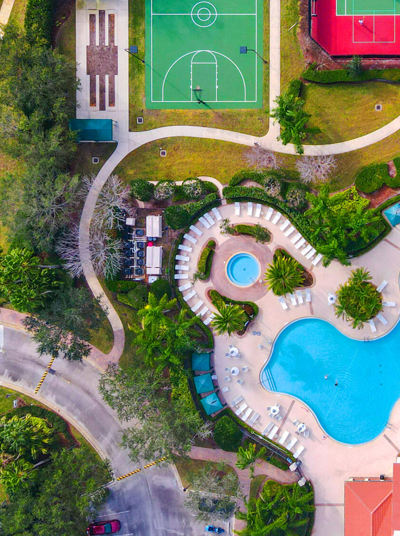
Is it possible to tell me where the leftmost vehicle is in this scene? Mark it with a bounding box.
[87,516,122,536]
